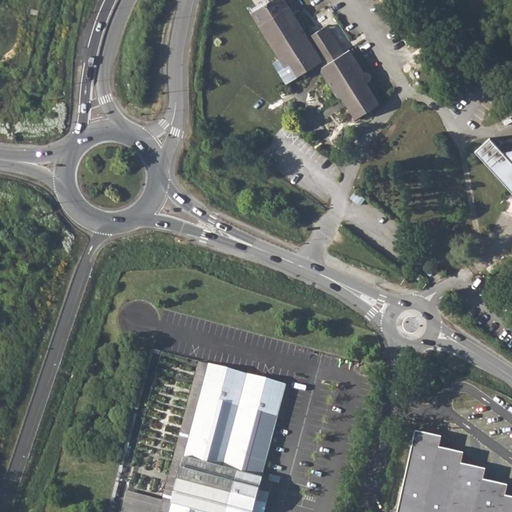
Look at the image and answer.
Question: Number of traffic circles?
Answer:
2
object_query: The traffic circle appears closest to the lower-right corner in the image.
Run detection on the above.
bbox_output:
[382,294,442,354]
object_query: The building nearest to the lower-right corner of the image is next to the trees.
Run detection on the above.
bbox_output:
[398,431,512,512]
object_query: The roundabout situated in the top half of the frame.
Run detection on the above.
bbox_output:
[53,119,169,235]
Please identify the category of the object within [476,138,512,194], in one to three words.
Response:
house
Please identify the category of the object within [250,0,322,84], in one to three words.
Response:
barn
